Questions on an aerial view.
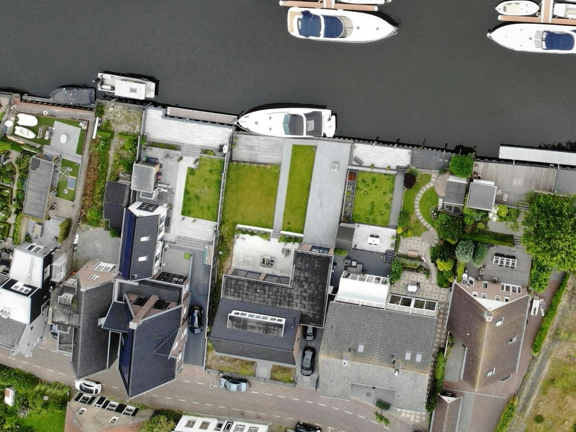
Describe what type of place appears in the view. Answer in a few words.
residential area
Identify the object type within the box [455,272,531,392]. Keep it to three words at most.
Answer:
house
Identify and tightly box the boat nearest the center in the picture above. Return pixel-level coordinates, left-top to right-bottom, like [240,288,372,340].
[234,106,335,137]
